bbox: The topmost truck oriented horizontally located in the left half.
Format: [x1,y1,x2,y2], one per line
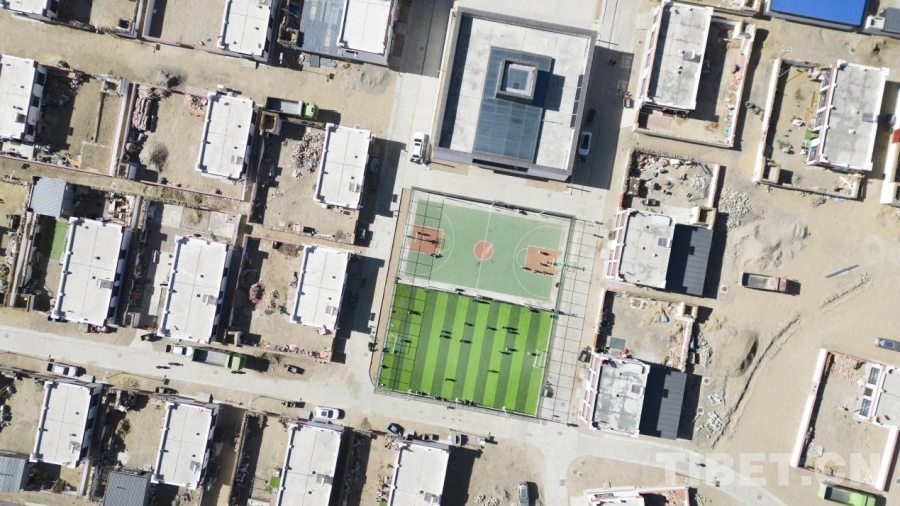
[263,96,317,119]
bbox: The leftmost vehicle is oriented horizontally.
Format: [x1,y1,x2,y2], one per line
[47,364,77,378]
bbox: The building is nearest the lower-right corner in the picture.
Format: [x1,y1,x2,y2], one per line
[857,362,900,430]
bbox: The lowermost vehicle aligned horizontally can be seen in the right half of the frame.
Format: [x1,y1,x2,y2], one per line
[823,484,883,506]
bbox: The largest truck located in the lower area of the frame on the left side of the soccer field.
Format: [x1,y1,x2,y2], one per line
[186,349,244,372]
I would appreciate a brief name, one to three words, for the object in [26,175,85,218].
shed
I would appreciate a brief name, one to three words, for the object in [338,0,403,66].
house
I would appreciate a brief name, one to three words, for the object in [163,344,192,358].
vehicle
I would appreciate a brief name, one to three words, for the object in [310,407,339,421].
car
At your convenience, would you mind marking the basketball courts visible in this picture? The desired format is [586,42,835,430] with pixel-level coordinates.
[405,200,562,300]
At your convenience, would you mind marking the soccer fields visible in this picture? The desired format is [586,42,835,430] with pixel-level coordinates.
[378,286,554,416]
